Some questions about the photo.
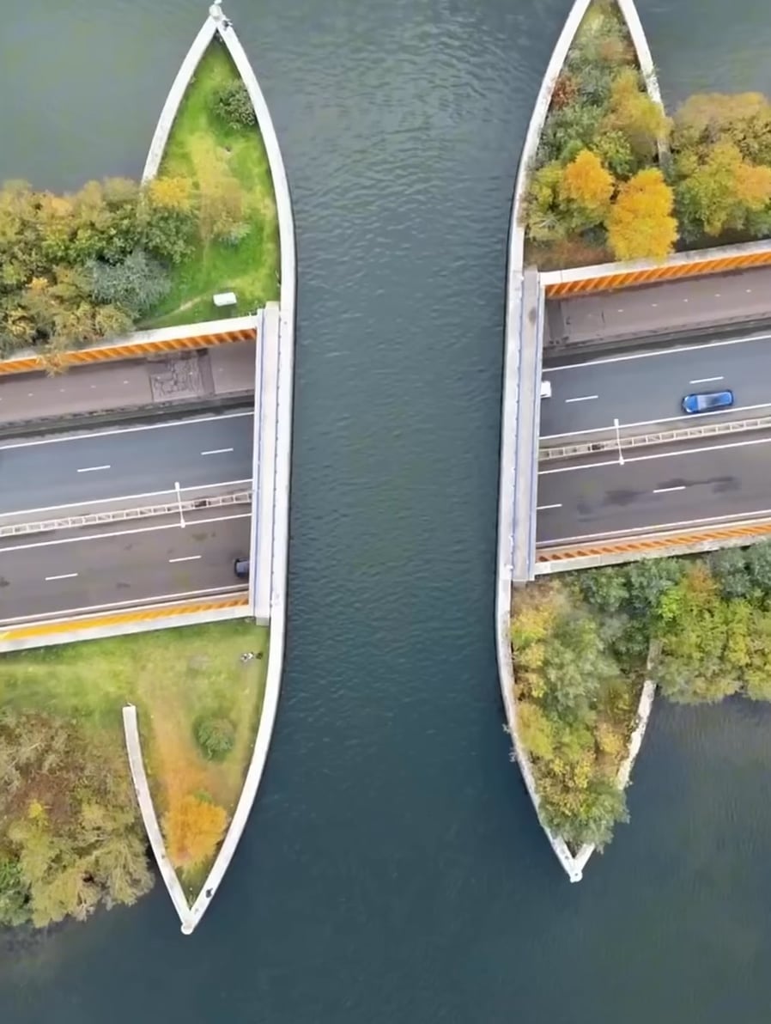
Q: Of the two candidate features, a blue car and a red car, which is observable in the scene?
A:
blue car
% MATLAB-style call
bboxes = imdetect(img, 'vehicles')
[682,389,733,414]
[235,558,251,578]
[541,379,551,400]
